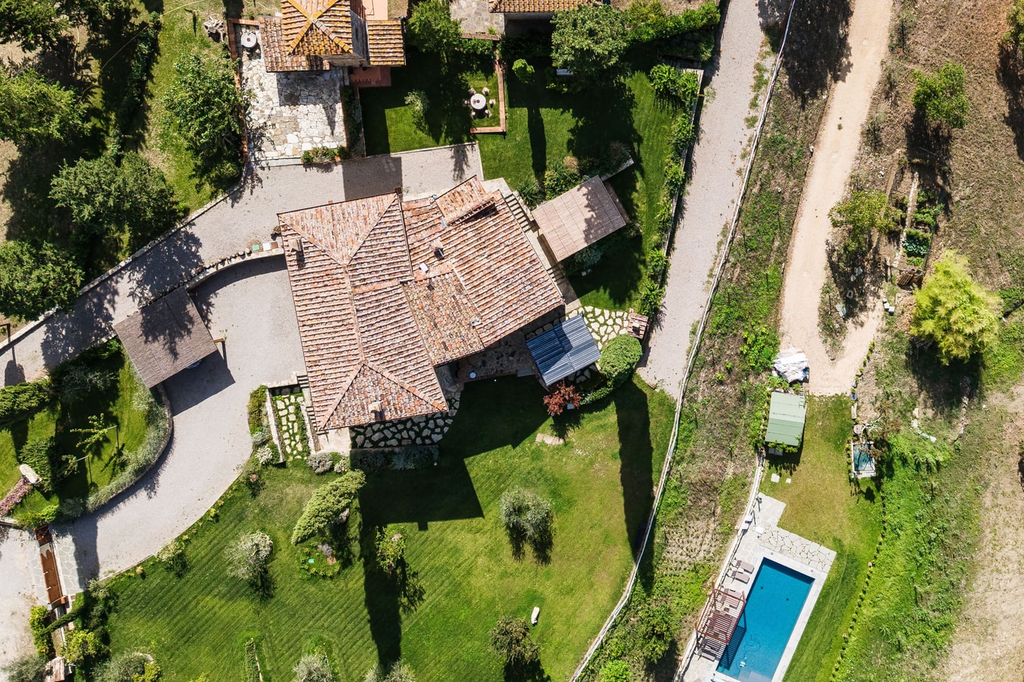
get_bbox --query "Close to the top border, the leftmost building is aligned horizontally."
[258,0,409,73]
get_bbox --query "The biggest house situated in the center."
[275,175,566,432]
